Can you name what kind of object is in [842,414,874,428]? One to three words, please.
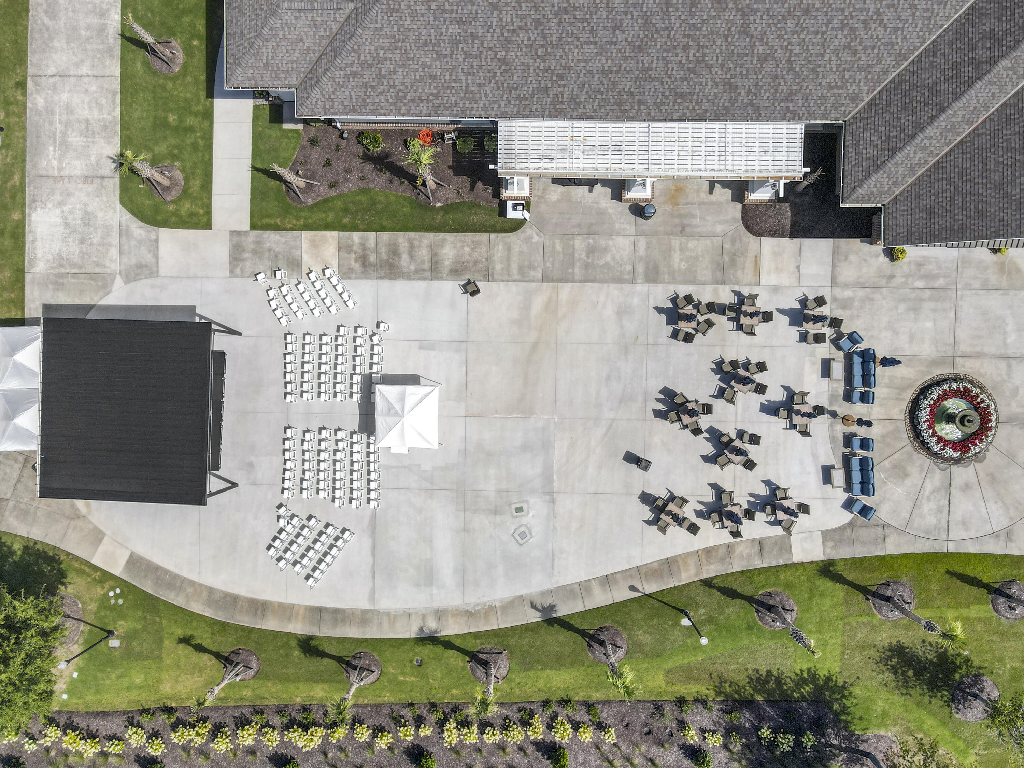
umbrella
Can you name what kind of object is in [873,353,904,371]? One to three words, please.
umbrella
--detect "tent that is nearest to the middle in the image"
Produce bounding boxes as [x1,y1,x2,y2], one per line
[375,384,444,448]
